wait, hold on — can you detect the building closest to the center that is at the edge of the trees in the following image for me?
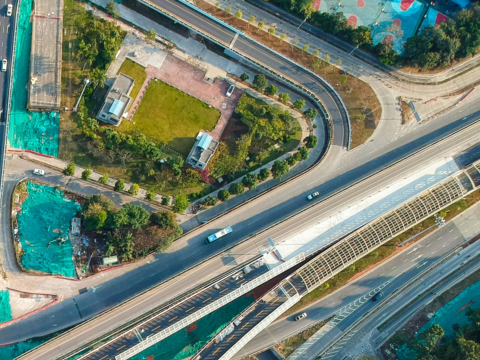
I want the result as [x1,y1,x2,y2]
[182,129,220,175]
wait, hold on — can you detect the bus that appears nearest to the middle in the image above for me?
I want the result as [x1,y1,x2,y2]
[206,224,236,244]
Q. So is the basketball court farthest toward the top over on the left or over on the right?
right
